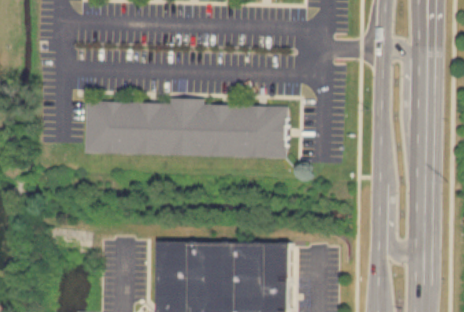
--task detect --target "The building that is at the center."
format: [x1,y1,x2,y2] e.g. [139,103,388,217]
[83,98,292,158]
